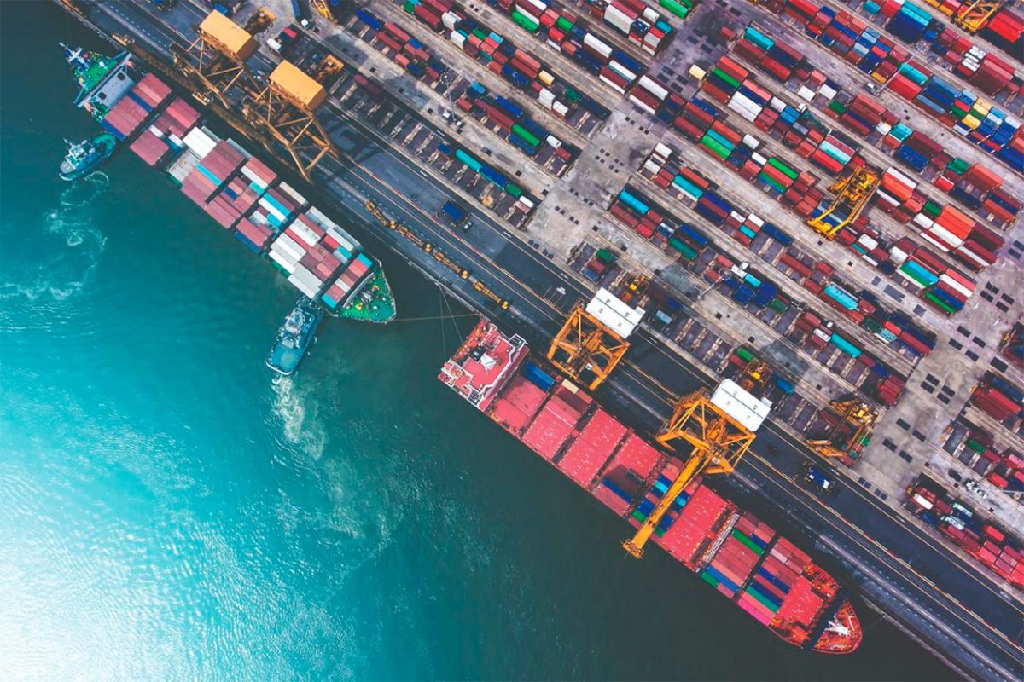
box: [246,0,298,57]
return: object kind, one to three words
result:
container crane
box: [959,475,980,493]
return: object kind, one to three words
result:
vehicle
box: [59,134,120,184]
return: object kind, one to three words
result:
boat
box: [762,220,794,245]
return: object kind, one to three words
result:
shipping container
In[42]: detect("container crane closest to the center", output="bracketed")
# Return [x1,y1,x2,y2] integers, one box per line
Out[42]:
[542,285,647,395]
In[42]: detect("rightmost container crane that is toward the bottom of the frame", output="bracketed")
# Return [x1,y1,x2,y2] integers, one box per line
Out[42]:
[796,392,875,456]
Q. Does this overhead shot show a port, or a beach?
port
